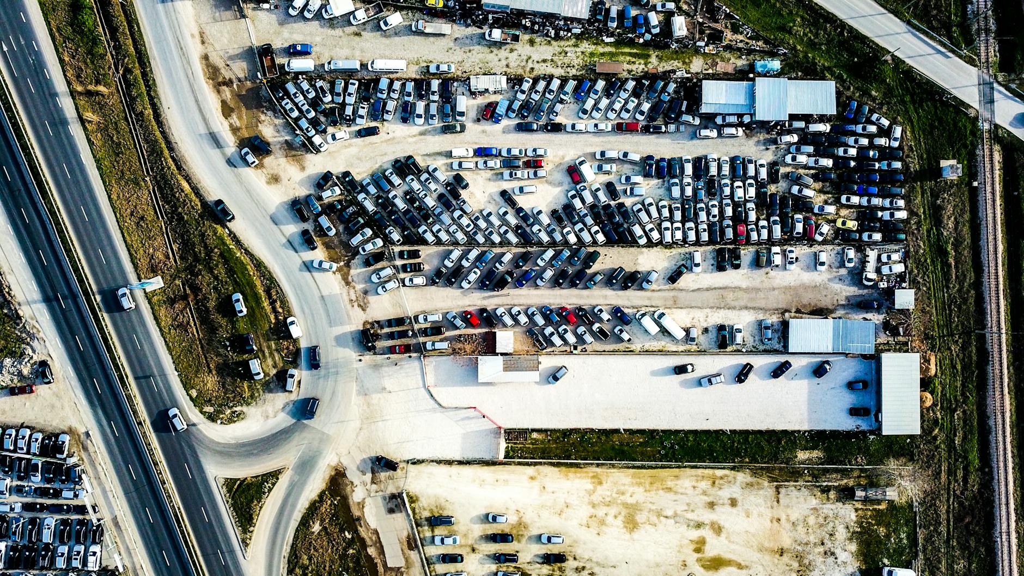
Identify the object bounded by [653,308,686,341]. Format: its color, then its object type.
white van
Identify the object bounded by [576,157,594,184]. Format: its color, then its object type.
white vehicle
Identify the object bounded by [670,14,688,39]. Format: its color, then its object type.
white camper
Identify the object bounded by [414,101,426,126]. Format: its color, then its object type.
white vehicle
